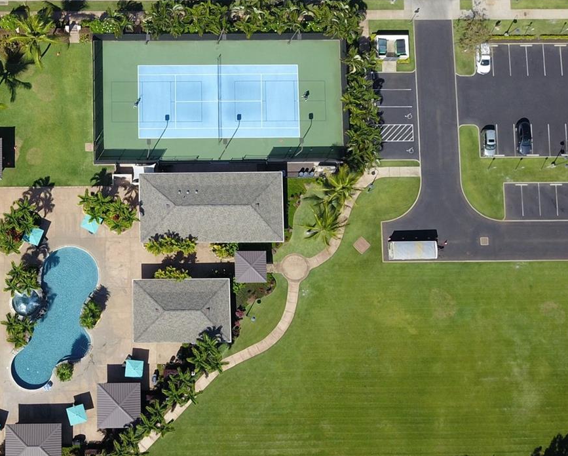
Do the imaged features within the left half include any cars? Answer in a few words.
No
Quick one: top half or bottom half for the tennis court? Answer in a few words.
top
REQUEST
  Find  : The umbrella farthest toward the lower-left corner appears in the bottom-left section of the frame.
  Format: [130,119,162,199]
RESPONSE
[67,404,88,426]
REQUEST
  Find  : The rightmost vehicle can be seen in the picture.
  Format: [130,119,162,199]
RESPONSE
[516,122,535,156]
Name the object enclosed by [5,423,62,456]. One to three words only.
building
